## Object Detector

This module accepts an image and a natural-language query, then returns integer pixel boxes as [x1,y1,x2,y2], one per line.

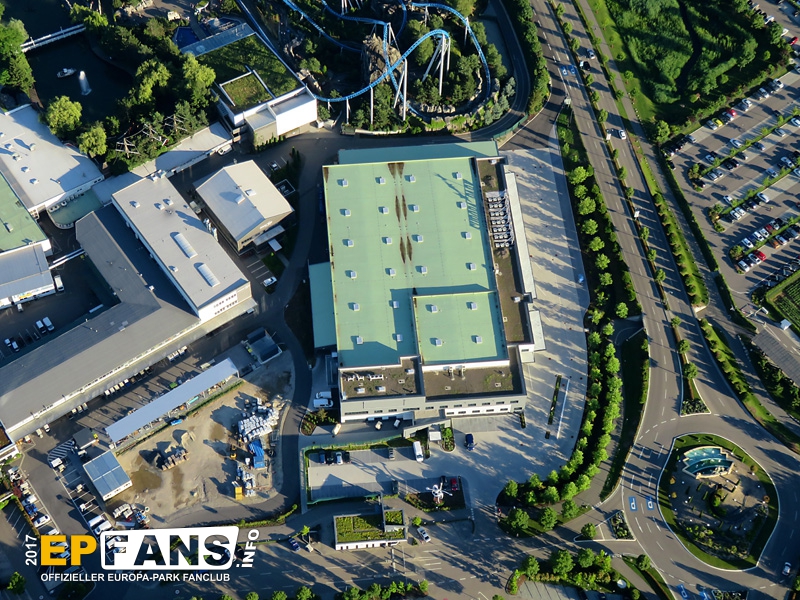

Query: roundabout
[656,431,780,571]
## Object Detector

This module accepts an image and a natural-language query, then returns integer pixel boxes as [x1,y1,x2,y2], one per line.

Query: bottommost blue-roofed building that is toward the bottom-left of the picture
[82,450,133,505]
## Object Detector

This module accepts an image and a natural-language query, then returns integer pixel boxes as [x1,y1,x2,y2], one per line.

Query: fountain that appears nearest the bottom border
[682,446,737,480]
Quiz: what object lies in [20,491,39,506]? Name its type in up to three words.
vehicle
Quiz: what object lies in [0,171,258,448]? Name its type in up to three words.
building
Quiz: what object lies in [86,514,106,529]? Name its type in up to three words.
vehicle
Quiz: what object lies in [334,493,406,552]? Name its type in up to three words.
building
